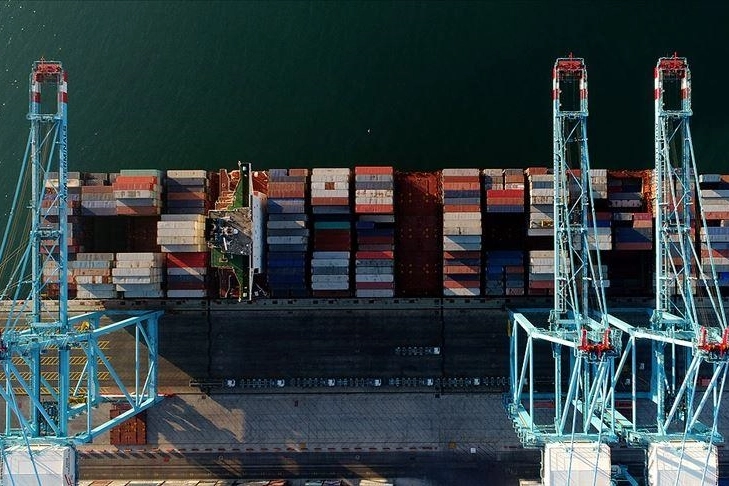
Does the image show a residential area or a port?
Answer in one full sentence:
The area seen from above is a port.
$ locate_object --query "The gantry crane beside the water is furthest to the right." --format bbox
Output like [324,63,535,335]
[579,51,729,486]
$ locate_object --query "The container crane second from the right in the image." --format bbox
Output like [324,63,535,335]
[497,52,620,486]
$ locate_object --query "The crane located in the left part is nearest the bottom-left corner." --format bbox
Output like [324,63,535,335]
[0,55,177,486]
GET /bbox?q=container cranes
[579,51,729,486]
[0,55,177,486]
[497,52,620,486]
